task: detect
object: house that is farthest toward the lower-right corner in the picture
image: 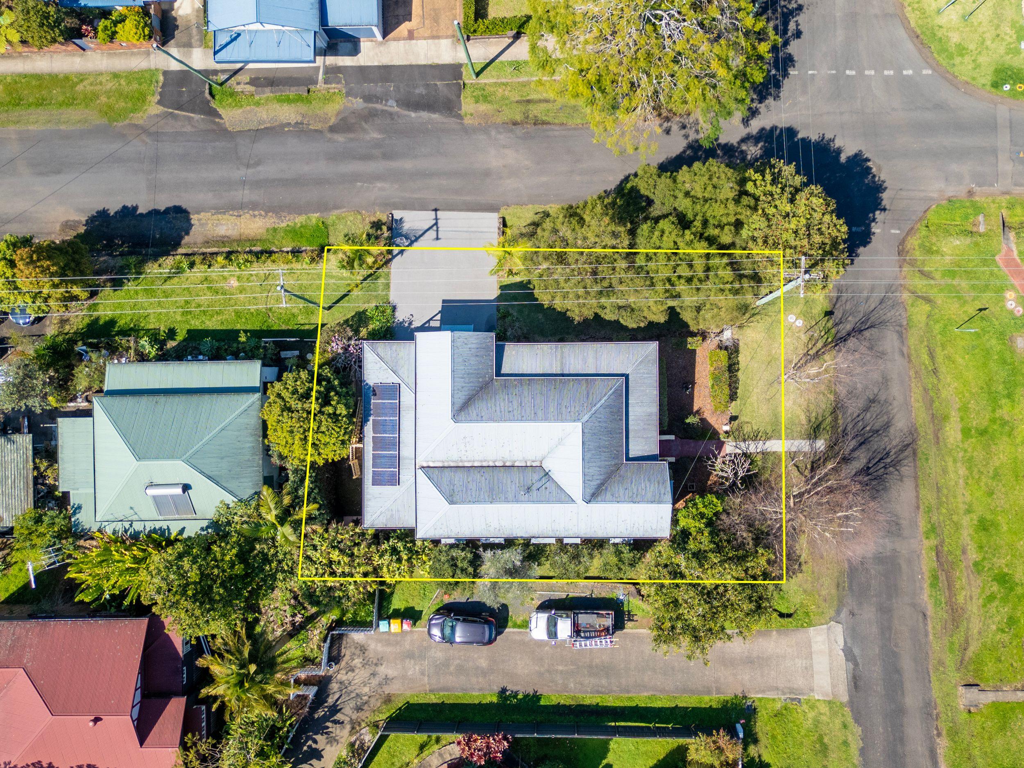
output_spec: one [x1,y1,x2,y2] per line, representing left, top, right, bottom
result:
[362,325,674,544]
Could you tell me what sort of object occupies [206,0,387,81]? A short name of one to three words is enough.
building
